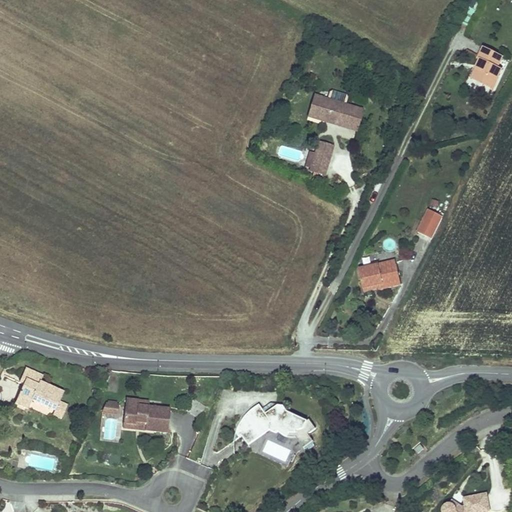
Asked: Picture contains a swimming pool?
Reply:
Yes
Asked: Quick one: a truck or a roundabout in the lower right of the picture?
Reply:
roundabout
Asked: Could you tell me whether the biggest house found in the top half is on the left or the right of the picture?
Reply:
right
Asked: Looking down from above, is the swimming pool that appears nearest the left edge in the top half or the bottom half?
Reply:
bottom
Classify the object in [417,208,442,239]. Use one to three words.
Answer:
barn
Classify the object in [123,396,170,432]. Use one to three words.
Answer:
house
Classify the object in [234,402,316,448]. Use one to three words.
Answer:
house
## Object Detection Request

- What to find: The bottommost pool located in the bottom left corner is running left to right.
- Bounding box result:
[18,450,59,474]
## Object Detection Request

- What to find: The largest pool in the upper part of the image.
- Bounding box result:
[278,146,308,166]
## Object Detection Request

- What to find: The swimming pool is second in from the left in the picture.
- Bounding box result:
[100,412,121,442]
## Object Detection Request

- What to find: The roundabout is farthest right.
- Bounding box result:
[368,360,428,422]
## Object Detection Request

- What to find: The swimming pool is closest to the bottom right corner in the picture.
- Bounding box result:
[262,440,292,462]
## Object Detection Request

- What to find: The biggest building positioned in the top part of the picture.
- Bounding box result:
[308,89,364,133]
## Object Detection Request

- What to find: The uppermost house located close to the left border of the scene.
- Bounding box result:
[16,366,68,418]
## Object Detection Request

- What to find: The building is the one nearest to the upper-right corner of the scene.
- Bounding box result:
[471,45,504,92]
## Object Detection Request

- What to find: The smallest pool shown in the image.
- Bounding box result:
[382,238,396,252]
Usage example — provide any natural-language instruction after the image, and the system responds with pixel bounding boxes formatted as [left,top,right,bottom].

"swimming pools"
[278,146,308,166]
[382,238,396,252]
[100,412,121,442]
[262,440,292,462]
[18,450,59,474]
